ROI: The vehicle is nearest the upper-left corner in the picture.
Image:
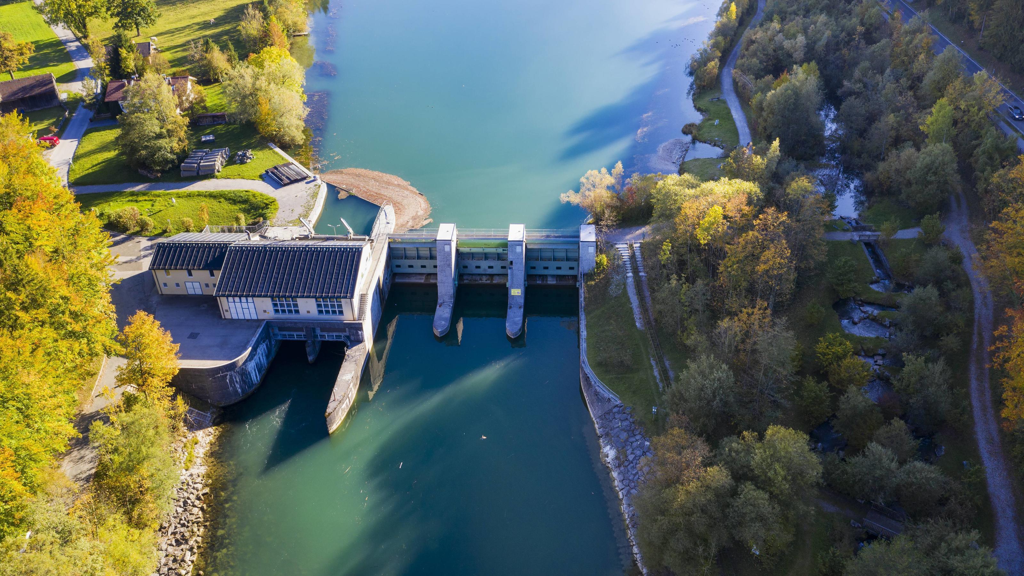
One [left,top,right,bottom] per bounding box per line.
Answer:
[36,135,59,148]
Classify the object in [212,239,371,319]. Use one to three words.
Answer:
building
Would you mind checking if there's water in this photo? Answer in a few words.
Yes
